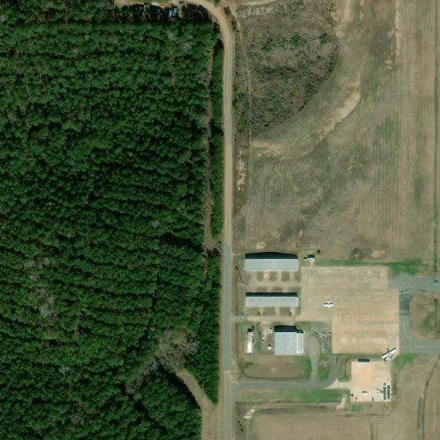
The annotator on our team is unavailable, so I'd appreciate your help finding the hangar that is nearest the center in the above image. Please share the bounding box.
[245,256,298,271]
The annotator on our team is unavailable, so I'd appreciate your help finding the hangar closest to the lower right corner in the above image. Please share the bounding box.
[275,331,304,355]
